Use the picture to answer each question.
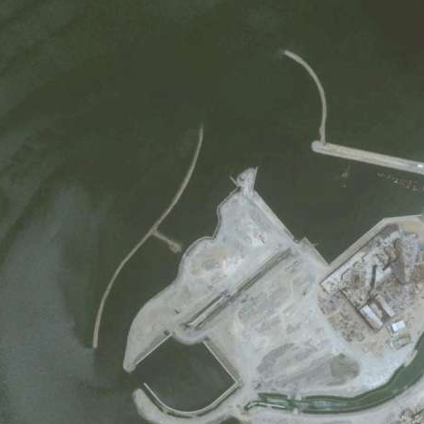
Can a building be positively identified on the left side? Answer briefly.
No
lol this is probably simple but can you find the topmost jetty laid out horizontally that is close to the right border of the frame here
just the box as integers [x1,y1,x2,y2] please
[313,142,424,174]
